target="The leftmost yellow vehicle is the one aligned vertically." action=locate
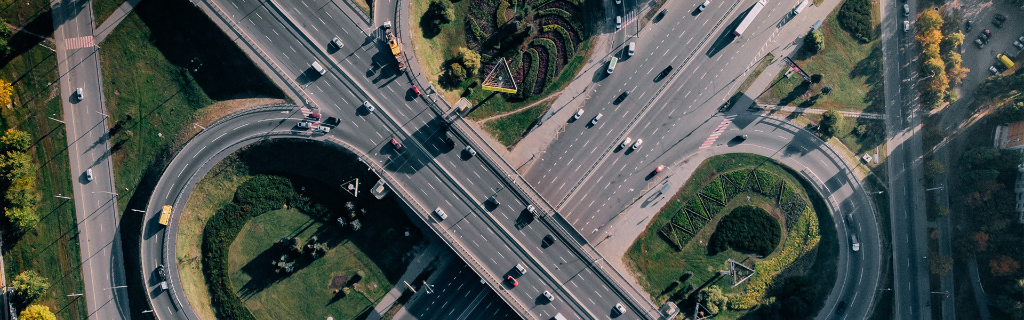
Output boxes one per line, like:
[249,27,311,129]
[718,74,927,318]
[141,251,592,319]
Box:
[158,205,170,226]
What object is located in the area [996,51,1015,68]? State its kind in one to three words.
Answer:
vehicle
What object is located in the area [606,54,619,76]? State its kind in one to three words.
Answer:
vehicle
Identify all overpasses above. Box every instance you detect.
[192,0,666,320]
